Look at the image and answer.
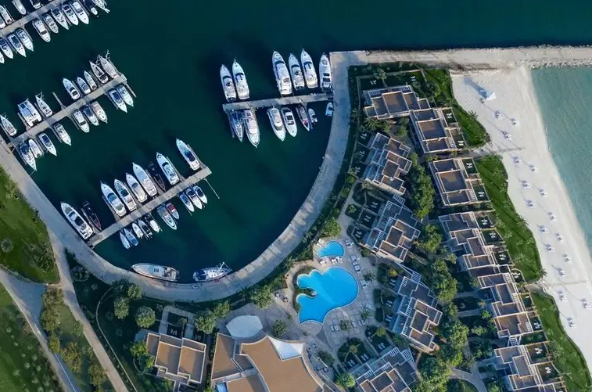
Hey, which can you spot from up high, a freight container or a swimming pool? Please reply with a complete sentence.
It is a swimming pool that can be seen here.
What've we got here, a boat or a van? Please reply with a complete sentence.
The one in the frame is a boat.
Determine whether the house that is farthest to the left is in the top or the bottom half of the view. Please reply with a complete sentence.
The house that is farthest to the left is in the bottom half of the image.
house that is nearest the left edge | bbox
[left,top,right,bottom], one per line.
[147,333,206,392]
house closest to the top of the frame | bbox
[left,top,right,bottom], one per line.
[363,85,430,121]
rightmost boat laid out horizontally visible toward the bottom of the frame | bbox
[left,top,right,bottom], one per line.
[193,265,231,280]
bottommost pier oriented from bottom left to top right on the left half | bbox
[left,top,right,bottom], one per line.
[79,143,219,246]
